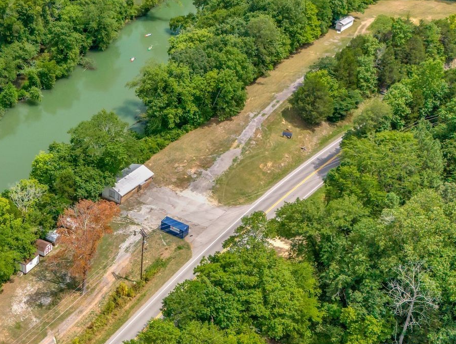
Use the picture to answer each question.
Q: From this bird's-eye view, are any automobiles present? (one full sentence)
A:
No, the picture doesn't show any automobile.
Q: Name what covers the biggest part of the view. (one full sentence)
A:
The largest share of the image is taken up by trees.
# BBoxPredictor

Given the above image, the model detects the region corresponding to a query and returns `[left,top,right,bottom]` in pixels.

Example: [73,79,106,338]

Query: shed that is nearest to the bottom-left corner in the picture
[13,248,40,273]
